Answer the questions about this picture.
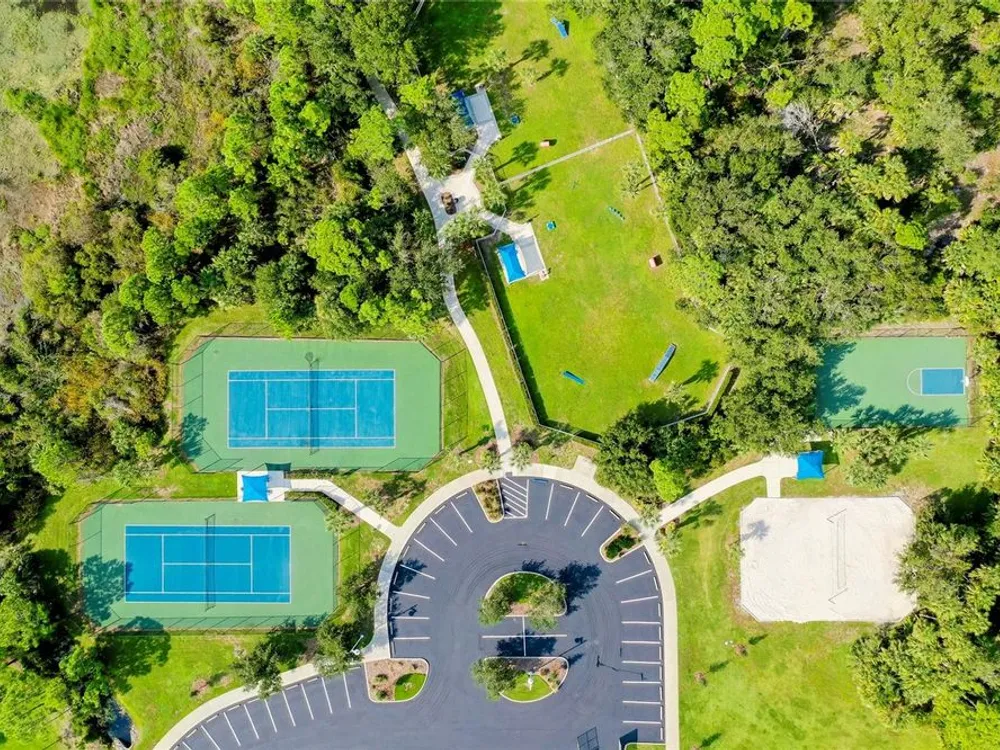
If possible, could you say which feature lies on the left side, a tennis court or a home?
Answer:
tennis court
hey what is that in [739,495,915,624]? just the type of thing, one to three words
sports court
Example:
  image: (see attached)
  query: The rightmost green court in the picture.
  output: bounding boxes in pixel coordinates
[806,337,968,427]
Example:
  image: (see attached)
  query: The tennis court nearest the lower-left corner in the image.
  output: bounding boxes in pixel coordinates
[81,501,335,629]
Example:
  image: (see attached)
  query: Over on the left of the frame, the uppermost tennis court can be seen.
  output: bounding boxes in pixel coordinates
[182,338,441,471]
